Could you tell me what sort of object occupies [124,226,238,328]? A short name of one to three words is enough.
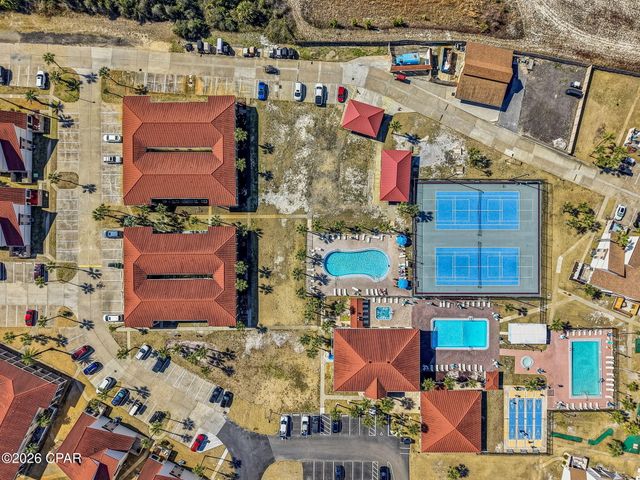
building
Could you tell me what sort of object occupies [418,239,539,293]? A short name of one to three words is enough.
tennis court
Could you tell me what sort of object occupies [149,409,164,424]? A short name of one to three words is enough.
car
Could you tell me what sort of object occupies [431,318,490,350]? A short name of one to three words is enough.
swimming pool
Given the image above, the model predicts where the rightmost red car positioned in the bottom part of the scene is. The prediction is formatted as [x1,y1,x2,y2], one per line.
[191,433,204,451]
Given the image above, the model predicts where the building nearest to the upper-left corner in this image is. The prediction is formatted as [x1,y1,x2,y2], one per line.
[0,107,48,184]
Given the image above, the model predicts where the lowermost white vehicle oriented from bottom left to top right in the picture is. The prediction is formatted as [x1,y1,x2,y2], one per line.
[128,400,142,417]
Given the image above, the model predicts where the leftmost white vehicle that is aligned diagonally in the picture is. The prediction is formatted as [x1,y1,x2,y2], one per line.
[95,376,112,391]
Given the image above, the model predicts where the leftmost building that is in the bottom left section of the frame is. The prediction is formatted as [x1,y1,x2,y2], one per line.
[0,343,74,480]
